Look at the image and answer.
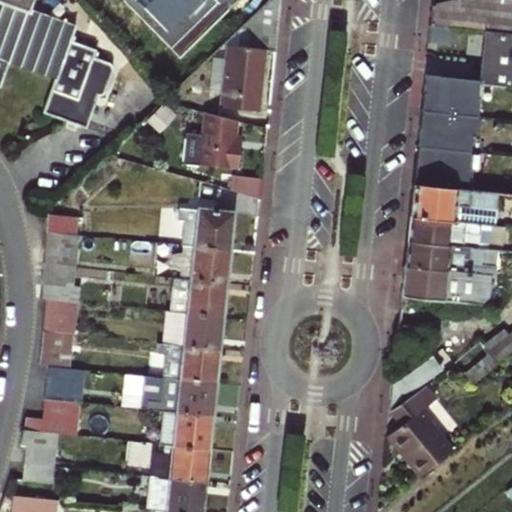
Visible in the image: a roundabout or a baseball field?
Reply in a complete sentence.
This aerial view contains a roundabout.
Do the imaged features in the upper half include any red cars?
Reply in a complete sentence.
Yes, a red car shows up in the upper half.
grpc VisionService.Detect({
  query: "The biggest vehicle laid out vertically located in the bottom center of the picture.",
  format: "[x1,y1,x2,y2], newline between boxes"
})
[249,402,261,432]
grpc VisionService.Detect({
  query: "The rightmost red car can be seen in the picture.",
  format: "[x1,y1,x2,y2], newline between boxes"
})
[316,160,334,180]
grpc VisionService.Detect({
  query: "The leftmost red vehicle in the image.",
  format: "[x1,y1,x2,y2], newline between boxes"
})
[244,446,264,464]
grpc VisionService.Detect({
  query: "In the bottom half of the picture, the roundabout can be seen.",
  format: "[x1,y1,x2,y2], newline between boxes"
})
[260,288,382,402]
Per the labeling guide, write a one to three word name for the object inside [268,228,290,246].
car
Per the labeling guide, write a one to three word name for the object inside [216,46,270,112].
house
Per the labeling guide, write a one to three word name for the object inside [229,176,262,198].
building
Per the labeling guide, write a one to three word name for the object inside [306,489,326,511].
car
